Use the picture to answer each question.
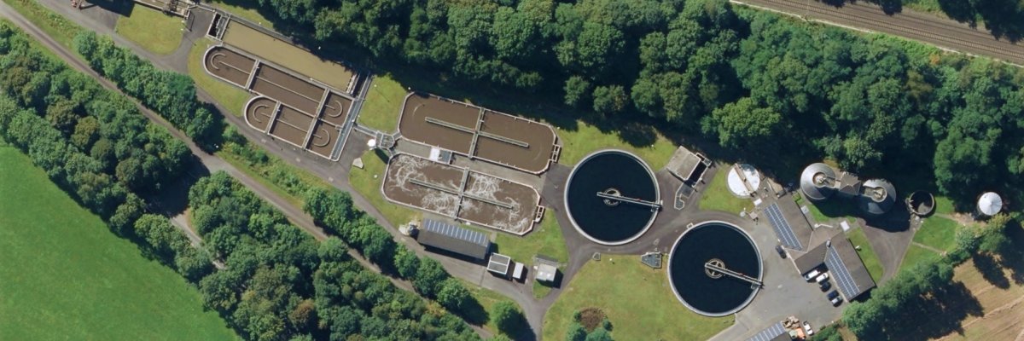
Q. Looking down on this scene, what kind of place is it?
industrial area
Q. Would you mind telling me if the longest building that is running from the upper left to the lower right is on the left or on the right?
right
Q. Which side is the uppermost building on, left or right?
right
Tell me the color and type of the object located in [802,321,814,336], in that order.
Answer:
white vehicle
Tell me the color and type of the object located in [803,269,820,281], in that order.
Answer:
white vehicle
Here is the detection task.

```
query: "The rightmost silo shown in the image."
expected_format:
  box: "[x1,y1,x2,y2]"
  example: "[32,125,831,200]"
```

[978,192,1002,216]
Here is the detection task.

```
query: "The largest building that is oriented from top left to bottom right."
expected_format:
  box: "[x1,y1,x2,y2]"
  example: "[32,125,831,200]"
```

[761,193,875,303]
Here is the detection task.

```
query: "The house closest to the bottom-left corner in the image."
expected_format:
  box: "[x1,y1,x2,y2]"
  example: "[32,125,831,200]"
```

[416,219,489,259]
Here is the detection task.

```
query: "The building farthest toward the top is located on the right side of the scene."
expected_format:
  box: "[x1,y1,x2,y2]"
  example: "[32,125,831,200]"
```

[667,145,701,180]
